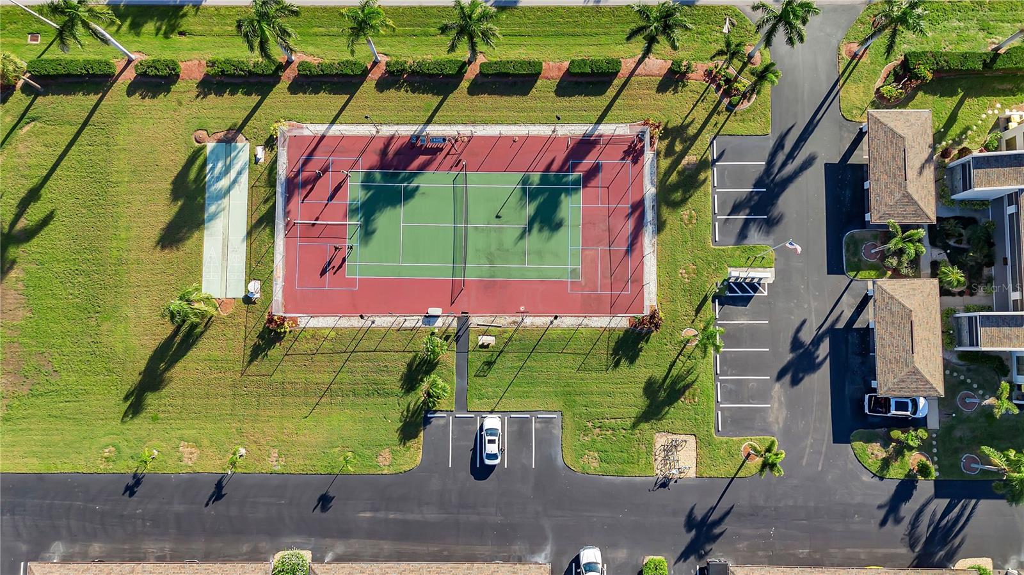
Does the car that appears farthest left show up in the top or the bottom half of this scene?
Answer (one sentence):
It is in the bottom half that the car that appears farthest left appears.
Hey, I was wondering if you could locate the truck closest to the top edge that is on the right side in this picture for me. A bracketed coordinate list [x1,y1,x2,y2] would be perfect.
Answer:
[862,397,929,422]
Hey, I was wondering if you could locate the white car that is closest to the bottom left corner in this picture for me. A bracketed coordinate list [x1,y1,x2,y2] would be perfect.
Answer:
[481,416,504,467]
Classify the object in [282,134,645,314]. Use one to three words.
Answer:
tennis court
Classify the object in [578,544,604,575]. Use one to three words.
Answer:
truck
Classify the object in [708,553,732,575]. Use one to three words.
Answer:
vehicle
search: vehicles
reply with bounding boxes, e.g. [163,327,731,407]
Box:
[862,397,929,422]
[481,416,504,467]
[708,553,732,575]
[578,544,604,575]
